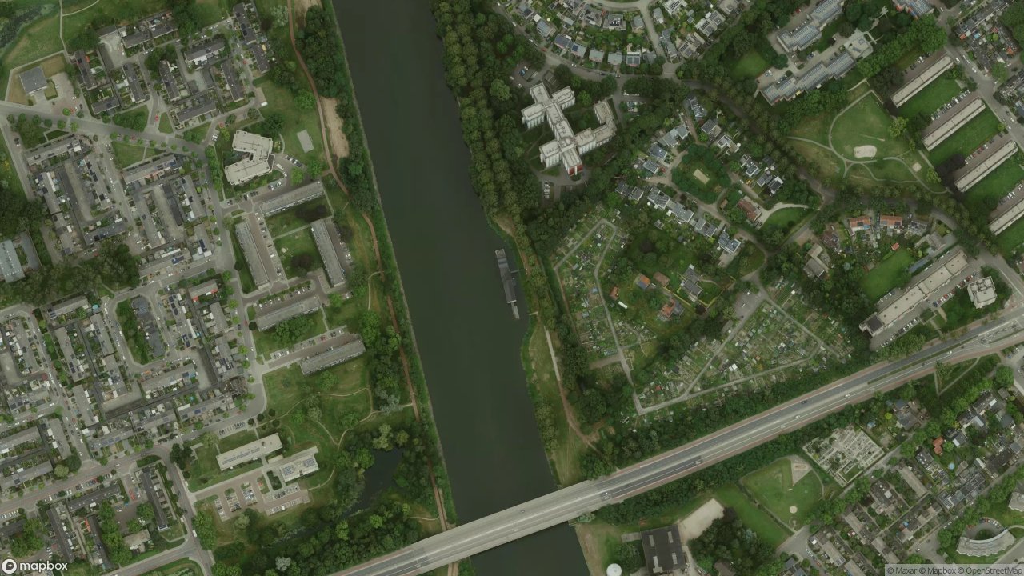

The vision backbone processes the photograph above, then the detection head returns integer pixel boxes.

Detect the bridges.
[406,480,599,575]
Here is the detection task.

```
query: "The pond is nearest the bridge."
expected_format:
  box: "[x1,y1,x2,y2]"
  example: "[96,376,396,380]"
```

[303,448,402,535]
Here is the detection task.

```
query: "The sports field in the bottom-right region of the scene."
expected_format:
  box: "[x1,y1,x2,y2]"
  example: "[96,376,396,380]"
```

[741,456,822,531]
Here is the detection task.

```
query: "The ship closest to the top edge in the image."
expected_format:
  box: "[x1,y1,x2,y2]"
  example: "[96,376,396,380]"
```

[496,250,517,303]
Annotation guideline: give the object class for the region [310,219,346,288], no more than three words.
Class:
building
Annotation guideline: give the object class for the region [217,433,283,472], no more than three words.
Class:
building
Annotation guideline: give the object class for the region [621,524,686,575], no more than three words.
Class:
shed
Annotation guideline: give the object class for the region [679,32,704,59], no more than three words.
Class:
house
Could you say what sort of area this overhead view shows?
residential area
